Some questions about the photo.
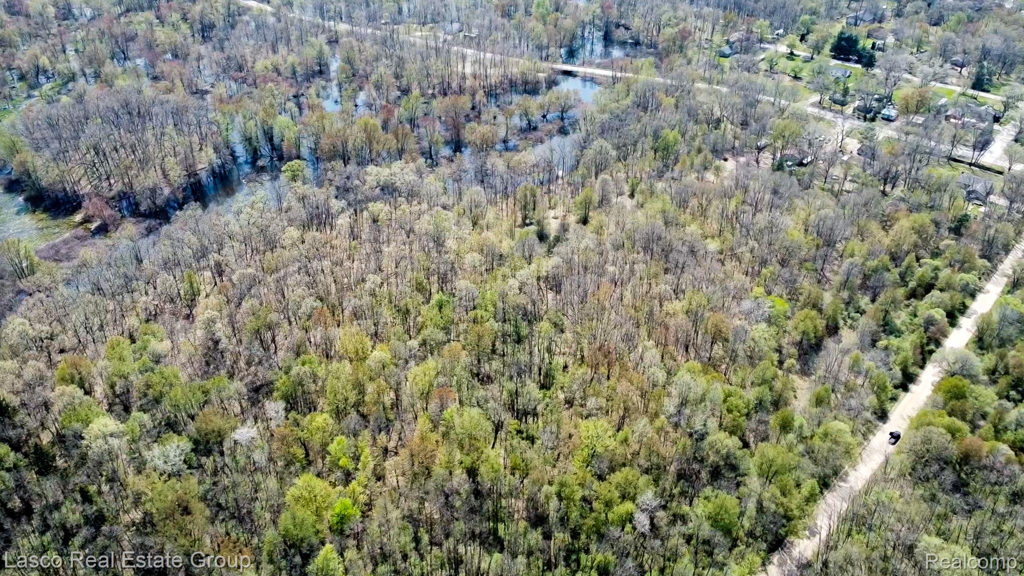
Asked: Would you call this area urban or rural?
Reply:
rural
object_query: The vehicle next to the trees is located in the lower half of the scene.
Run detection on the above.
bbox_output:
[887,429,904,447]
